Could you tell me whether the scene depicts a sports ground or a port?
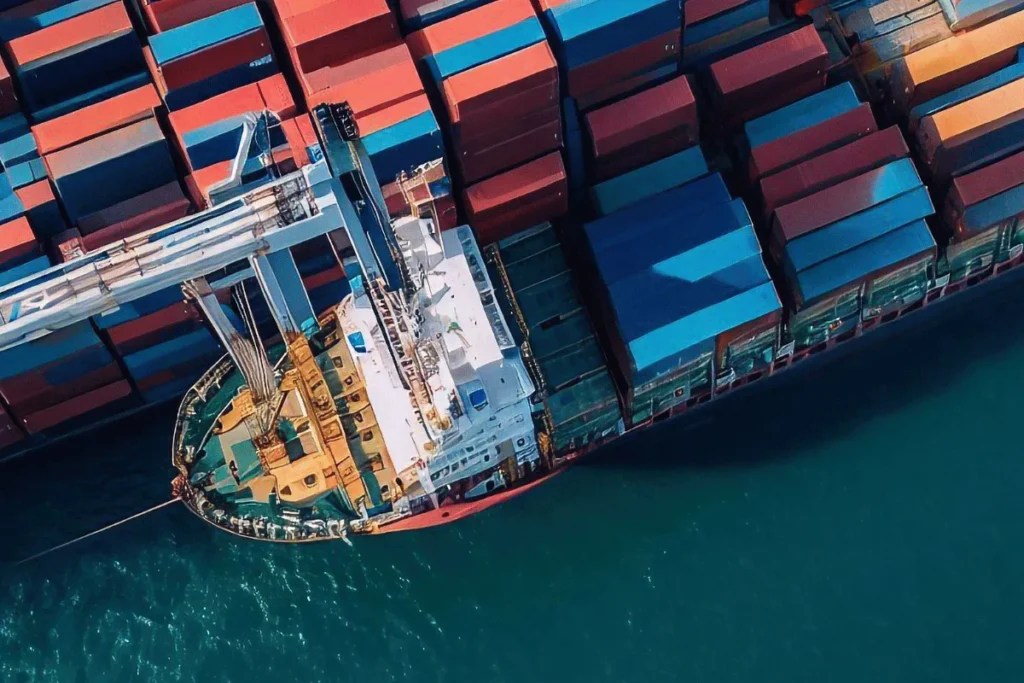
port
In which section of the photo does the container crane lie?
left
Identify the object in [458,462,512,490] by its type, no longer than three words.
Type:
boat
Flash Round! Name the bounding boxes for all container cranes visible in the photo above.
[0,95,454,455]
